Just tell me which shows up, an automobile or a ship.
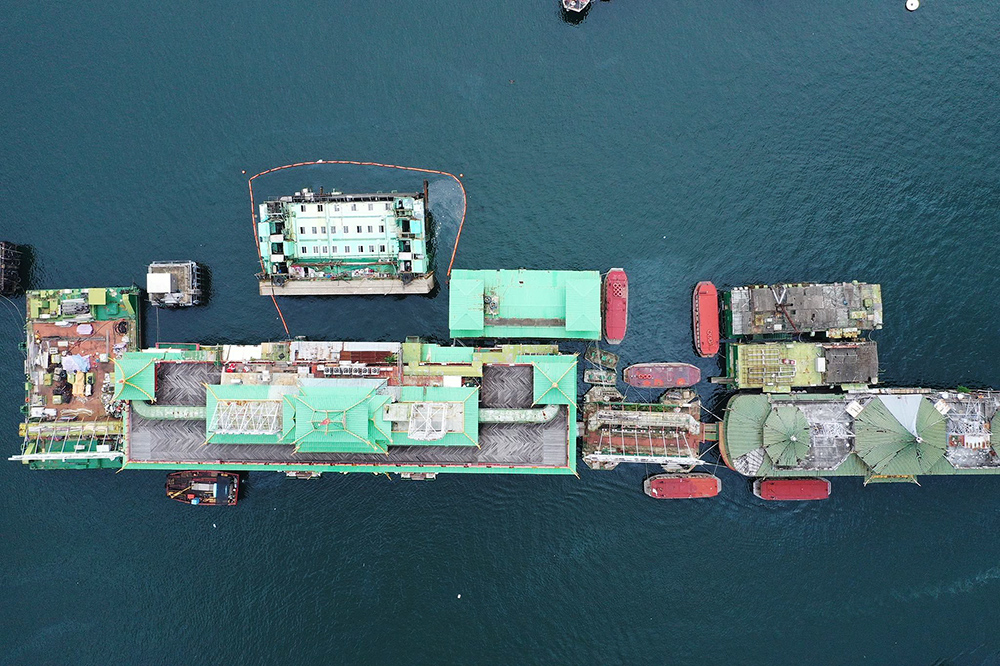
ship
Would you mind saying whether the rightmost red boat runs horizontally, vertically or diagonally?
horizontally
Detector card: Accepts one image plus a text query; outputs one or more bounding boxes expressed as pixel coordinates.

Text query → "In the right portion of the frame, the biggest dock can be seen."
[582,386,705,472]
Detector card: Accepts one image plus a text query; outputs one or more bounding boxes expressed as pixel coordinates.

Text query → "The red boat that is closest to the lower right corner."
[752,476,832,501]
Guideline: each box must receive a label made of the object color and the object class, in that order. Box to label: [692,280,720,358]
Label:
red boat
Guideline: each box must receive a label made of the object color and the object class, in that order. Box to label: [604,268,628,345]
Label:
red boat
